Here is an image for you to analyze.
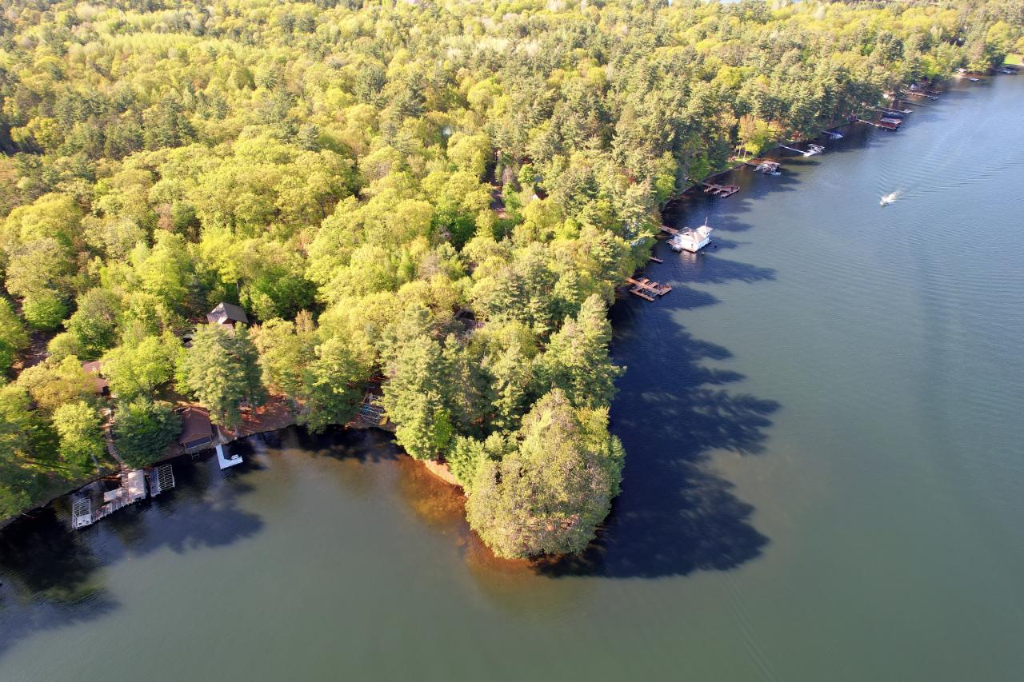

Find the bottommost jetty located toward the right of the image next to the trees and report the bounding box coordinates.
[624,276,677,302]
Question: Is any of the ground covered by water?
Yes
